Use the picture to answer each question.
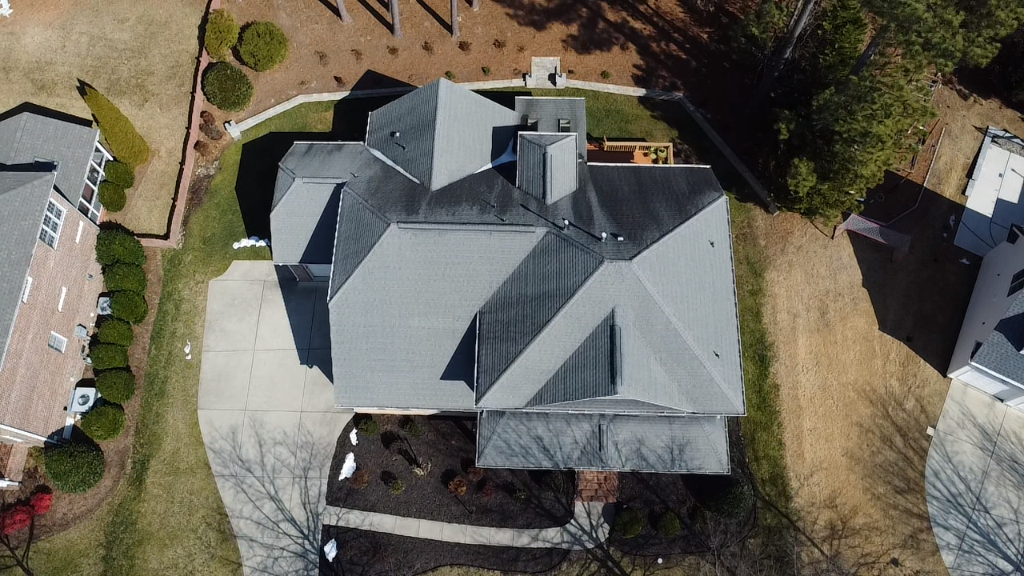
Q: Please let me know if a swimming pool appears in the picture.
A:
No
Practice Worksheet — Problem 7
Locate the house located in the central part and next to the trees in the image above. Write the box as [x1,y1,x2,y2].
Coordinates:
[267,75,748,478]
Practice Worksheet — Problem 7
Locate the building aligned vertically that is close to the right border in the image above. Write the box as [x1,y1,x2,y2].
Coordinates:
[946,227,1024,405]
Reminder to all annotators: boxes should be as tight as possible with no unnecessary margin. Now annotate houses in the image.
[267,75,748,478]
[946,227,1024,405]
[0,110,112,492]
